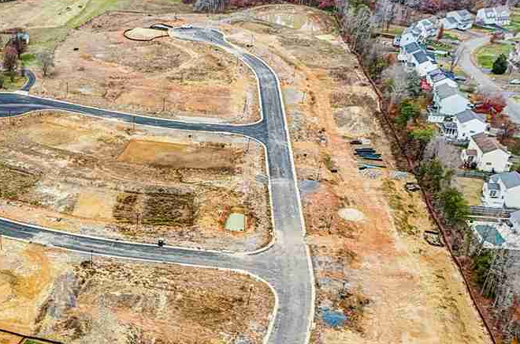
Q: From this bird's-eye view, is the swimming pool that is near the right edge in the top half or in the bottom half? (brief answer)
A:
bottom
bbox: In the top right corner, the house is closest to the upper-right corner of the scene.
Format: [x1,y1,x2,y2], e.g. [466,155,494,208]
[476,7,516,28]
